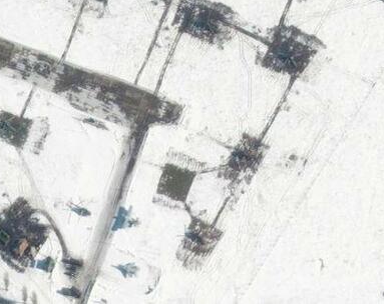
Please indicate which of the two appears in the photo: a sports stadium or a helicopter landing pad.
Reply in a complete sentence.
Looking from above, you can make out a helicopter landing pad.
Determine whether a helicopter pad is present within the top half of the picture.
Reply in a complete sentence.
Yes, there is a helicopter pad within the top half of the picture.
